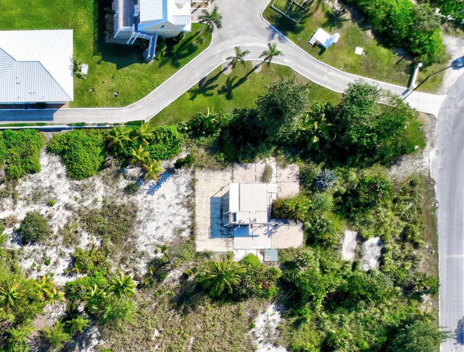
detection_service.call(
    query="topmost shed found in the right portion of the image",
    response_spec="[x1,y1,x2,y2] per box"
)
[310,27,339,49]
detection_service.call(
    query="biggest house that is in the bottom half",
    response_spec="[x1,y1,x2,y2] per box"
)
[205,183,277,252]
